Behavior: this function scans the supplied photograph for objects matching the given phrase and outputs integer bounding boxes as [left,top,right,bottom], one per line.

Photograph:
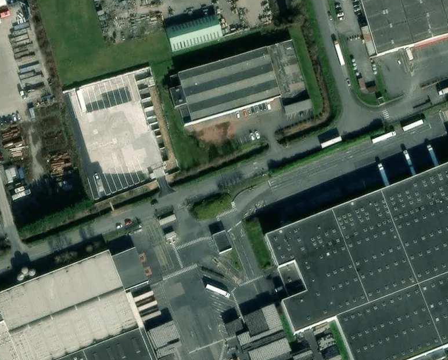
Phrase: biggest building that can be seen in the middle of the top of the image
[178,45,279,128]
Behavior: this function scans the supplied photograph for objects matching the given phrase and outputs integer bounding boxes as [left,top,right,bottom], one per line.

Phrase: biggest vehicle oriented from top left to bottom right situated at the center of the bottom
[205,281,227,298]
